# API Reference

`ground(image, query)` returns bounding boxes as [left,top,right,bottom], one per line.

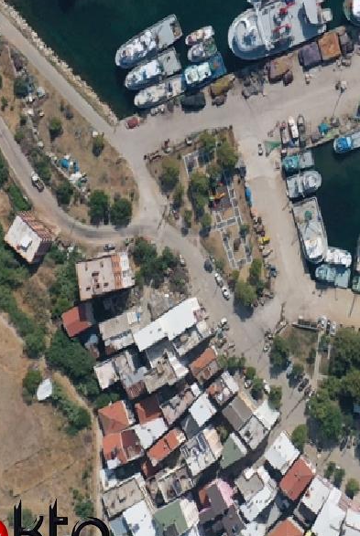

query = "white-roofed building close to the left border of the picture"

[4,214,52,263]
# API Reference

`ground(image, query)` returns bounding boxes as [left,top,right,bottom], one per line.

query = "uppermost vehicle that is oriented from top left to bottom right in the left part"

[27,170,47,194]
